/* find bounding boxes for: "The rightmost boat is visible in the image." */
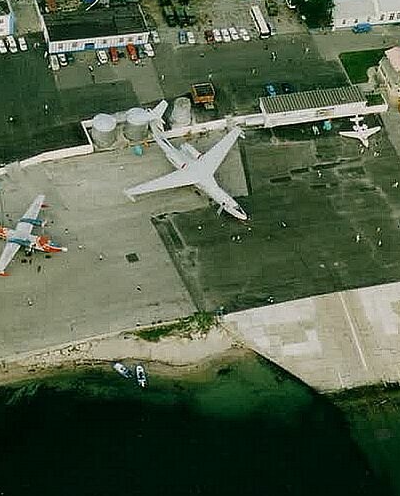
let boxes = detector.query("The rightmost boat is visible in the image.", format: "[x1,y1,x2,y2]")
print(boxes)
[135,365,147,385]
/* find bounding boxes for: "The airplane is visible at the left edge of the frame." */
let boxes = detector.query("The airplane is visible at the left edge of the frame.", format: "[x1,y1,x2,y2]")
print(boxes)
[0,193,67,275]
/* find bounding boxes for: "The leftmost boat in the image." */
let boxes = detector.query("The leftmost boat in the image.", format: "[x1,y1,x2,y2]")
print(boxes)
[115,362,131,377]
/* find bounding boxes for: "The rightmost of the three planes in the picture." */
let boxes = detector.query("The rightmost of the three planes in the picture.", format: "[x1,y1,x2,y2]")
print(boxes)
[339,111,380,146]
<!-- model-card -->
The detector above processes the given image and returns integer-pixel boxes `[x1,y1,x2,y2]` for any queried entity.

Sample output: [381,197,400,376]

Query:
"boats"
[115,362,131,377]
[135,365,147,385]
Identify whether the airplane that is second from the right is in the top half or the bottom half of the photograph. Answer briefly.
top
